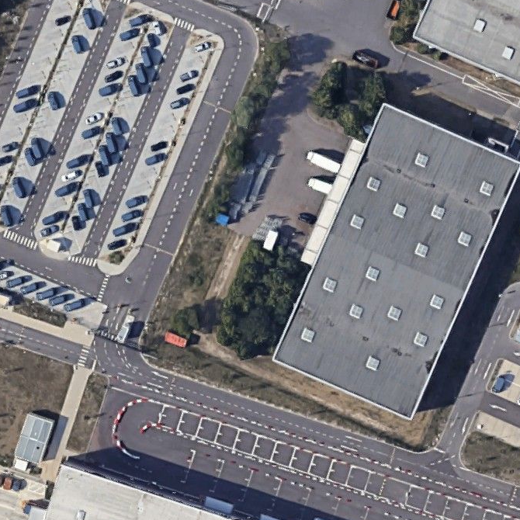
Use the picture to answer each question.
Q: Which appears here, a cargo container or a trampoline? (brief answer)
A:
cargo container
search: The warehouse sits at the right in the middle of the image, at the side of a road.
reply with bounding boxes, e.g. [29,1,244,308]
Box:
[273,104,520,419]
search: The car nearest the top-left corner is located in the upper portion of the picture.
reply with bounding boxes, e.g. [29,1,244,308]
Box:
[54,14,73,27]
